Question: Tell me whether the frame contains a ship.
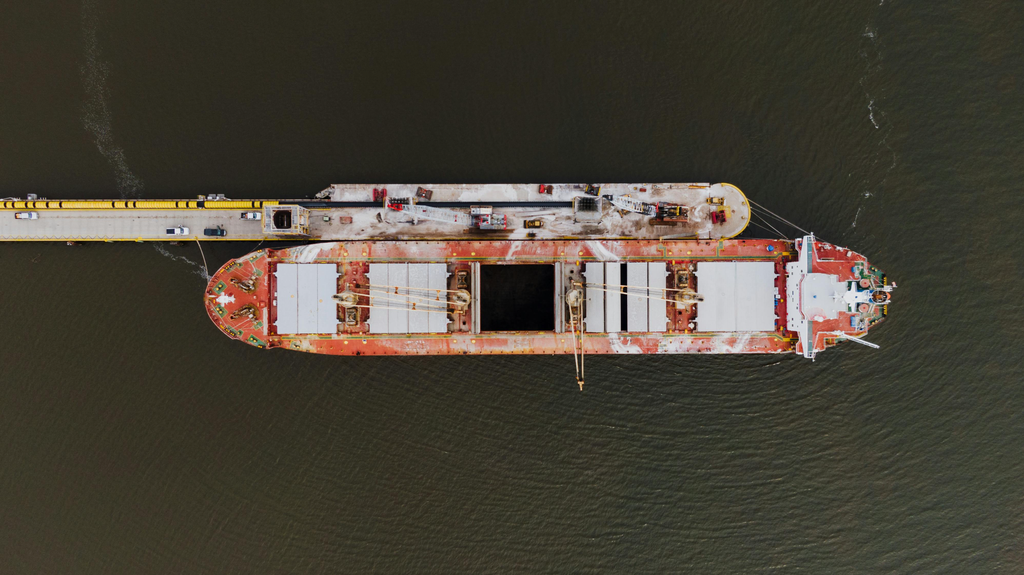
Yes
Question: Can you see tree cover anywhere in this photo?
No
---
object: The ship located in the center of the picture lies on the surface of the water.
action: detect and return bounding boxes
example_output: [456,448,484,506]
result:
[205,232,893,390]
